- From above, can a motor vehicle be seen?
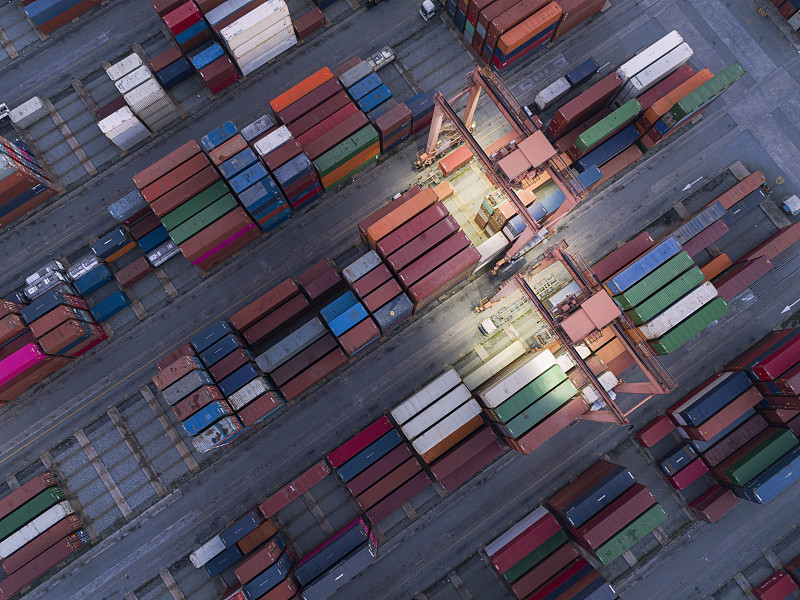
Yes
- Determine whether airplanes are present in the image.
No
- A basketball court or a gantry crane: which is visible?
gantry crane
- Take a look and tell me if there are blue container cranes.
No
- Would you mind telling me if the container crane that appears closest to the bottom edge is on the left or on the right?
right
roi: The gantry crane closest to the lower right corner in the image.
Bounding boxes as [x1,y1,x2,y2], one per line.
[471,235,680,435]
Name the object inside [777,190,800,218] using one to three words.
truck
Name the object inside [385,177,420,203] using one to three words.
truck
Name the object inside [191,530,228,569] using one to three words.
shipping container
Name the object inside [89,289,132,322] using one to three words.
shipping container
